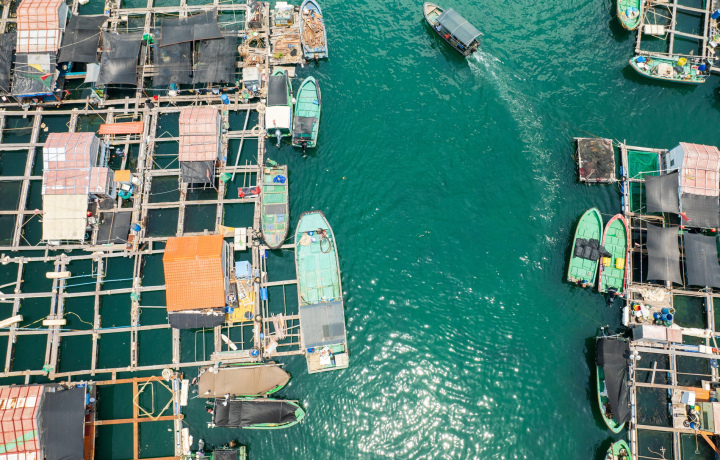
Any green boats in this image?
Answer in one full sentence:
Yes, a green boat appears in the view.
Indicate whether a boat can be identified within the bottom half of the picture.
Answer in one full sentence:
Yes, you'll find a boat within the bottom half of the picture.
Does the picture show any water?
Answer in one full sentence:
Yes, some water is visible.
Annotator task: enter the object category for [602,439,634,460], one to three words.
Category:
boat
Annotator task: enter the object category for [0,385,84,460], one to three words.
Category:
shed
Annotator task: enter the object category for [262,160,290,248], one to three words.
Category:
boat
